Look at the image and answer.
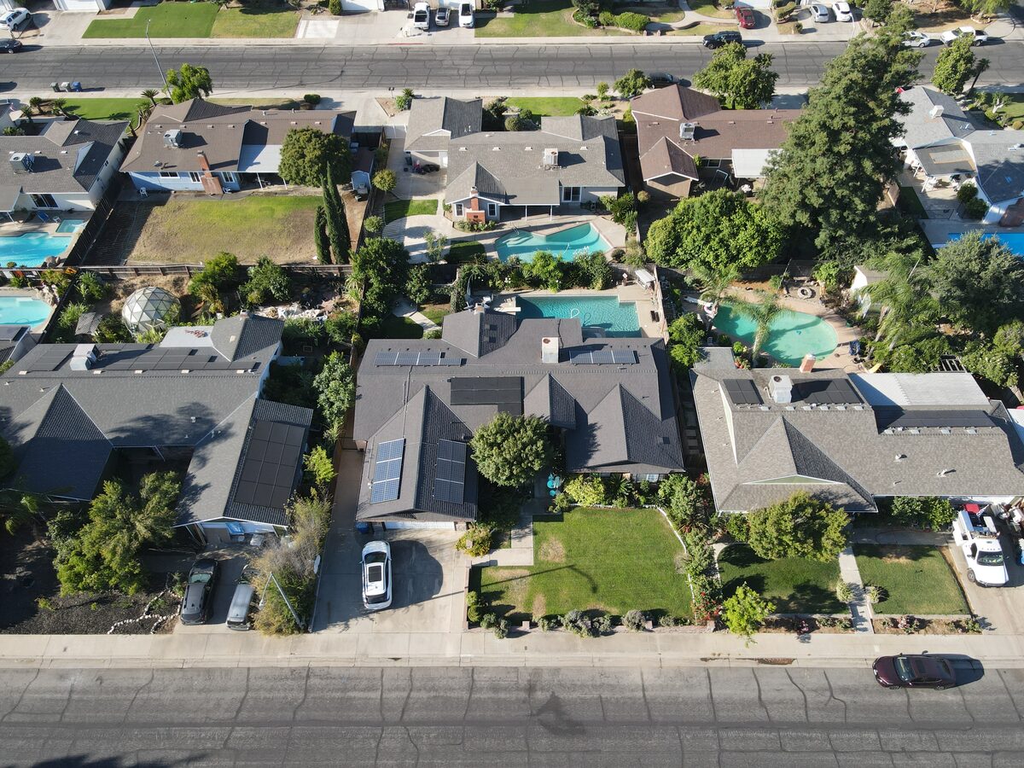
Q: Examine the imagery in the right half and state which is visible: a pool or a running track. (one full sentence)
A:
Looking in the right half, you will find a pool.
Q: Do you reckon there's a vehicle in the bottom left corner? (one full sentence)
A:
Yes, I can see a vehicle in the bottom left corner.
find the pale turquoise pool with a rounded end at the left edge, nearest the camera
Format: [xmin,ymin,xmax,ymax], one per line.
[0,293,48,329]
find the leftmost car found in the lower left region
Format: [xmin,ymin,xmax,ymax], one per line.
[176,556,226,631]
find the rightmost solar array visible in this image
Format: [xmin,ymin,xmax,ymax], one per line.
[877,410,994,426]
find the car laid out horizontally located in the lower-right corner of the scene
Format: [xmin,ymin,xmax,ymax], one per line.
[868,651,960,691]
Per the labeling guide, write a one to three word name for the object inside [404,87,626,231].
house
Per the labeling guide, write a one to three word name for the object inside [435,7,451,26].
car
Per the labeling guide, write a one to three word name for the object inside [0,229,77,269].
swimming pool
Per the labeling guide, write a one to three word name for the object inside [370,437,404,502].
solar array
